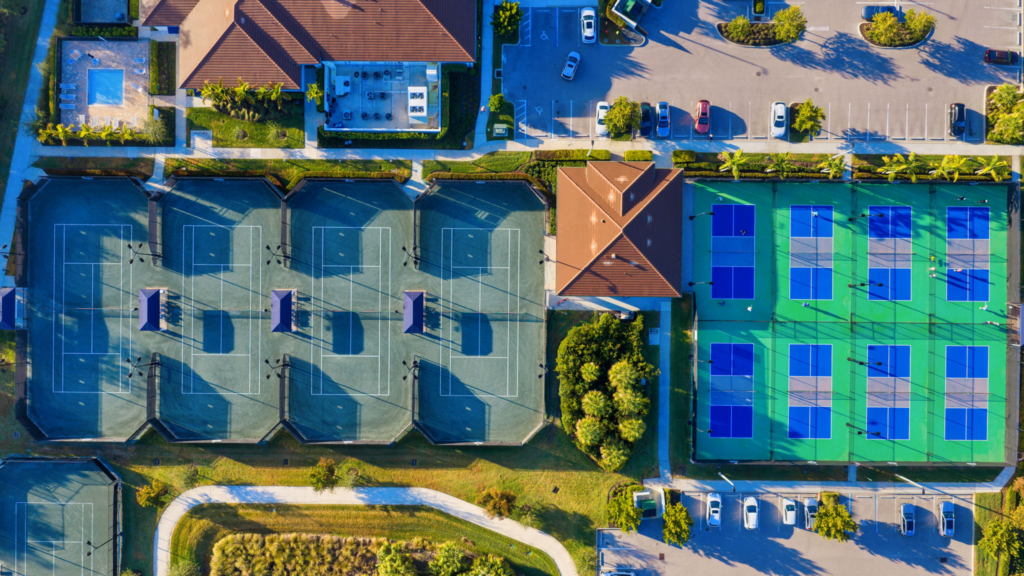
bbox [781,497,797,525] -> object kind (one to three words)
car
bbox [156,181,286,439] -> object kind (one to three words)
tennis court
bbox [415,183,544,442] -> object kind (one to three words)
tennis court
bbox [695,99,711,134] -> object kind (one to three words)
car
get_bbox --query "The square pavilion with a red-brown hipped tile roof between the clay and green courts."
[555,161,683,297]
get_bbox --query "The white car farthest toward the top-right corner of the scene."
[770,101,787,138]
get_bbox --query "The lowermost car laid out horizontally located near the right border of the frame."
[983,48,1018,64]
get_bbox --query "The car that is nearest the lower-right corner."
[937,501,955,537]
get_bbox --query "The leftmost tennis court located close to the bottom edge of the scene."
[0,459,116,576]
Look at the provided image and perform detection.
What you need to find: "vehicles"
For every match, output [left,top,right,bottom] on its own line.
[983,48,1018,64]
[802,497,820,531]
[948,103,966,137]
[638,102,654,137]
[860,4,897,21]
[706,492,723,527]
[781,497,797,525]
[656,102,671,137]
[897,502,915,537]
[595,101,611,136]
[695,99,711,134]
[770,101,787,138]
[937,501,955,537]
[743,496,760,531]
[561,49,580,82]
